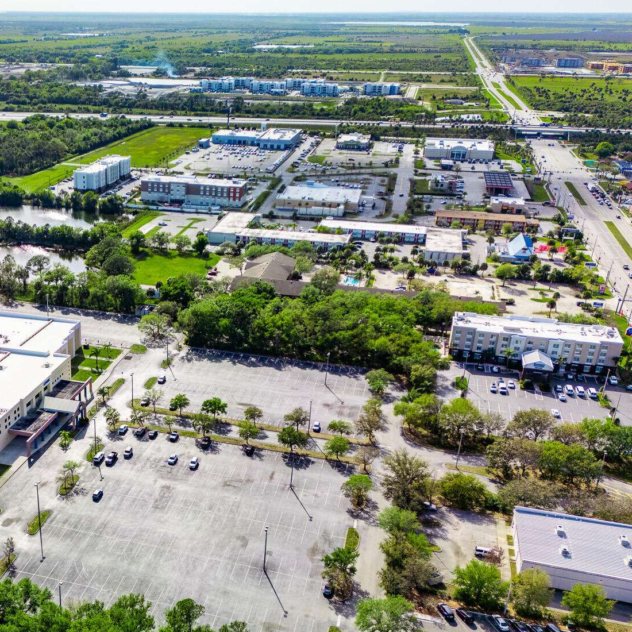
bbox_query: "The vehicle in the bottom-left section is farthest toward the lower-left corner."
[90,487,105,500]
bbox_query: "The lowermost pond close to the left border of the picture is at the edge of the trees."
[0,244,87,278]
